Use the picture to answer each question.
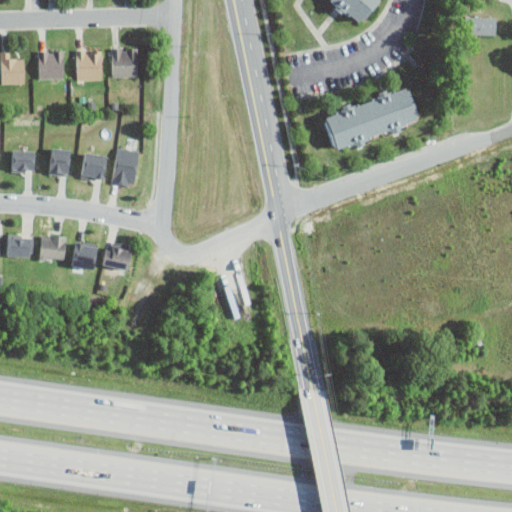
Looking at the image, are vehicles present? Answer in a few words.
Yes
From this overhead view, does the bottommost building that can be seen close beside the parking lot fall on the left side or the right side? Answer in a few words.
right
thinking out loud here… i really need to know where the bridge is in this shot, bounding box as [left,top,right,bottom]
[300,394,350,512]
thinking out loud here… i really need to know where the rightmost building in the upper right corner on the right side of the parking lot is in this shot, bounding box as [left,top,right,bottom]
[474,16,498,36]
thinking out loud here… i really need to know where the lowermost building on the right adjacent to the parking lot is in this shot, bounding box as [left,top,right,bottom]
[323,88,418,150]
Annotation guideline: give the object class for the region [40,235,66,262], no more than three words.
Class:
house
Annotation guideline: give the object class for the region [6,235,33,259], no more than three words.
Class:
house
